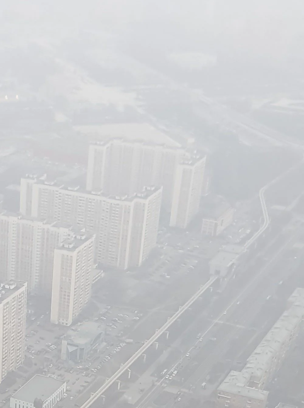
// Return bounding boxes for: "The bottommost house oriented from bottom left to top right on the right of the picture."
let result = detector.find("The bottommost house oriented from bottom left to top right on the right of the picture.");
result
[213,298,304,408]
